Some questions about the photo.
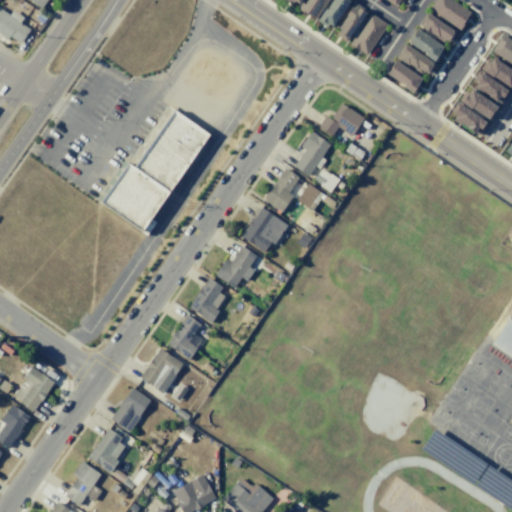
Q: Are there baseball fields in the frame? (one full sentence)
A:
Yes, a baseball field can be made out from above.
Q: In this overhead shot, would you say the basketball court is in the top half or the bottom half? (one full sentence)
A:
The basketball court sits in the bottom half of the picture.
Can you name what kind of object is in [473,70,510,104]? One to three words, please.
house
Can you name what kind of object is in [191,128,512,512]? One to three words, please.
sports field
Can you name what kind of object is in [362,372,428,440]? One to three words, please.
baseball field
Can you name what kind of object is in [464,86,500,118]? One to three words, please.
house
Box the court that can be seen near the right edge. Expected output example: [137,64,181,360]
[432,327,512,481]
